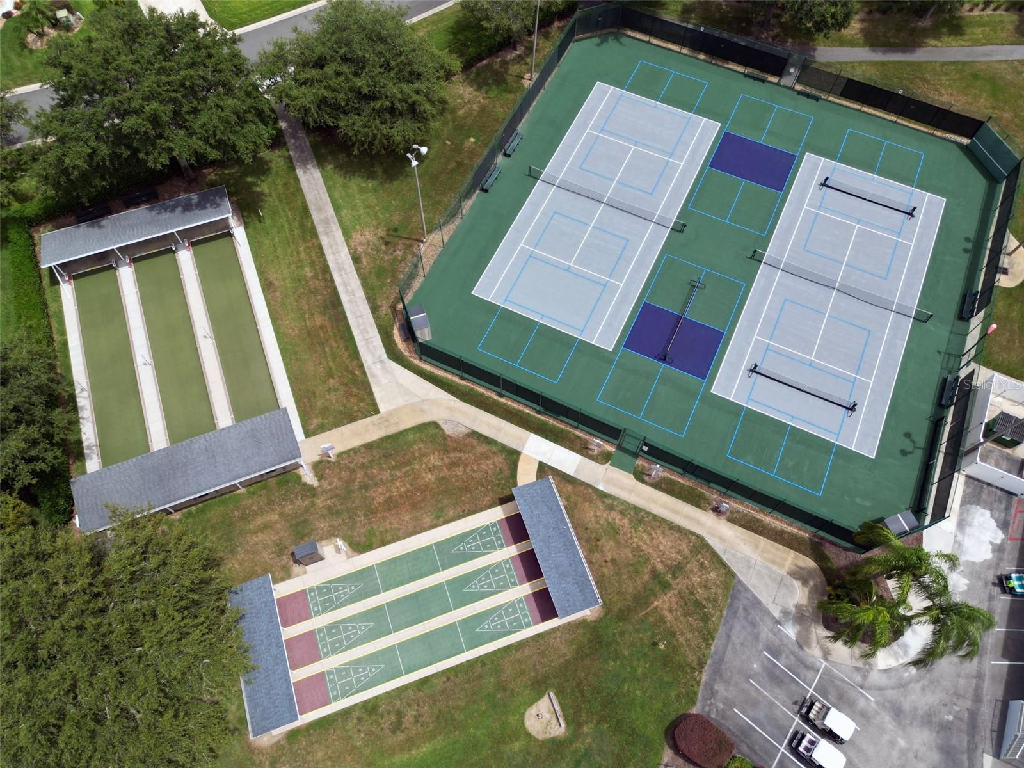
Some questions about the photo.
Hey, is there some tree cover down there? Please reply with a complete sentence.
Yes, tree cover can be seen from above here.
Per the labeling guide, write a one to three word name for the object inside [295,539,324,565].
shed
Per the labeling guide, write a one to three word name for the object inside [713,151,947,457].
tennis court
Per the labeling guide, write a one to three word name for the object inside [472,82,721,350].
tennis court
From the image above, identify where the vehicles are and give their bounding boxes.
[983,572,1024,599]
[796,695,856,748]
[784,727,846,768]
